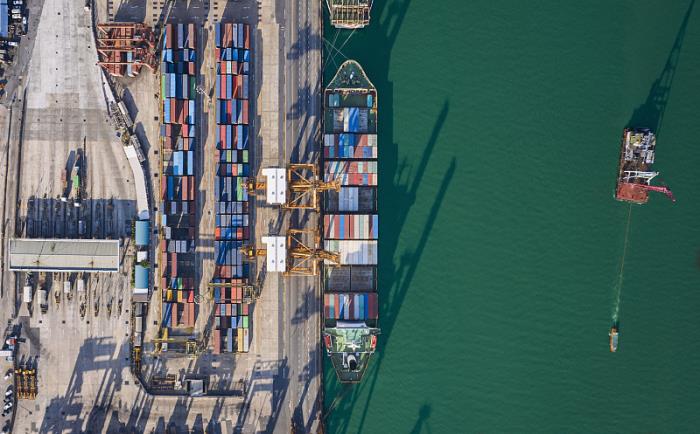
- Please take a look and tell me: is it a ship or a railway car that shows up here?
ship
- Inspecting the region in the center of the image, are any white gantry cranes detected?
Yes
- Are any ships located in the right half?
Yes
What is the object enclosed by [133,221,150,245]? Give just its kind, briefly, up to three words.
shed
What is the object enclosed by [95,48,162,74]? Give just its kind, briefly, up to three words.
container crane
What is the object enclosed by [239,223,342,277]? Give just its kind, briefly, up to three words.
container crane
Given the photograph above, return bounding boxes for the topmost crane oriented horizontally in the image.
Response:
[95,23,162,51]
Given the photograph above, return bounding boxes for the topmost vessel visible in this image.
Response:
[326,0,373,30]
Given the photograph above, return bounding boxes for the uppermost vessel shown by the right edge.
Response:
[615,128,673,204]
